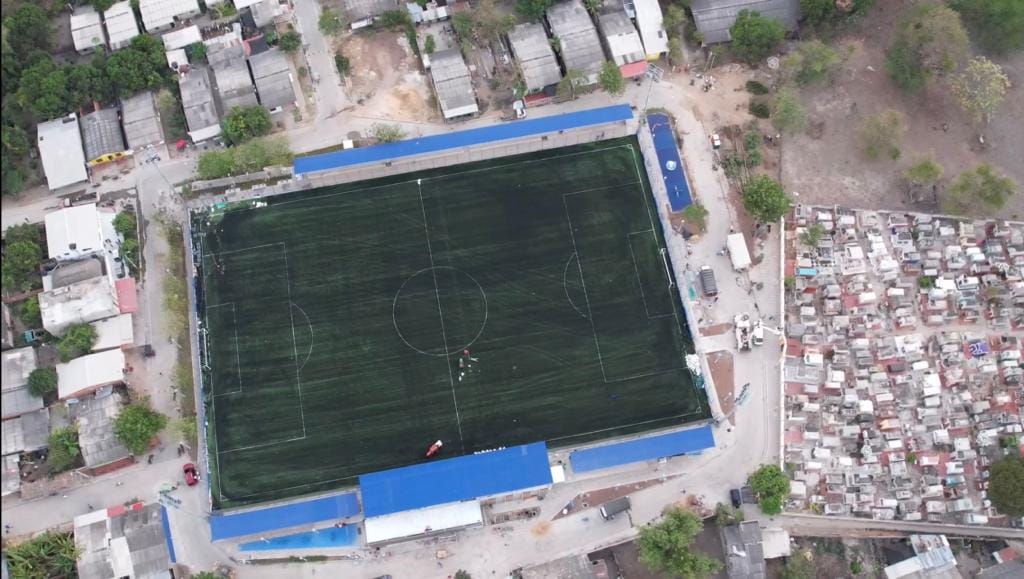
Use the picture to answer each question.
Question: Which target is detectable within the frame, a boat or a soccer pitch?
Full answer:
It is a soccer pitch that can be seen here.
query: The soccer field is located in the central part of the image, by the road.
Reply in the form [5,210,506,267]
[191,135,713,514]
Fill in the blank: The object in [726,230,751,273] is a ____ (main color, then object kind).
white truck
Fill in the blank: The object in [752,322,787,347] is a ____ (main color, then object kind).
white truck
